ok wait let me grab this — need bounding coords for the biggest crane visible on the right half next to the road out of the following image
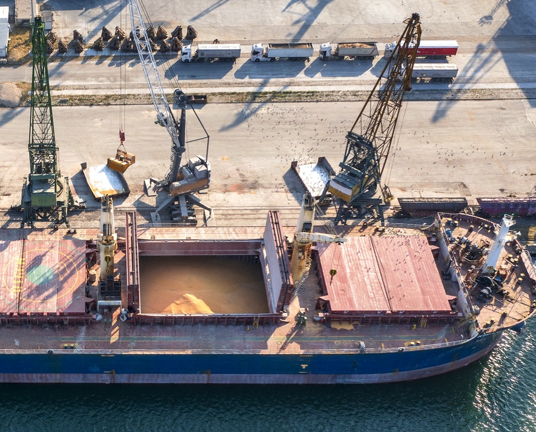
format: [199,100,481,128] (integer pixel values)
[315,8,427,231]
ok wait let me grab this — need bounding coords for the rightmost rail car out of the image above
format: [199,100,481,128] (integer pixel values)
[469,189,536,213]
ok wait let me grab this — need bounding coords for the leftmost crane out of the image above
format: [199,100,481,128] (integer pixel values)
[8,12,85,231]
